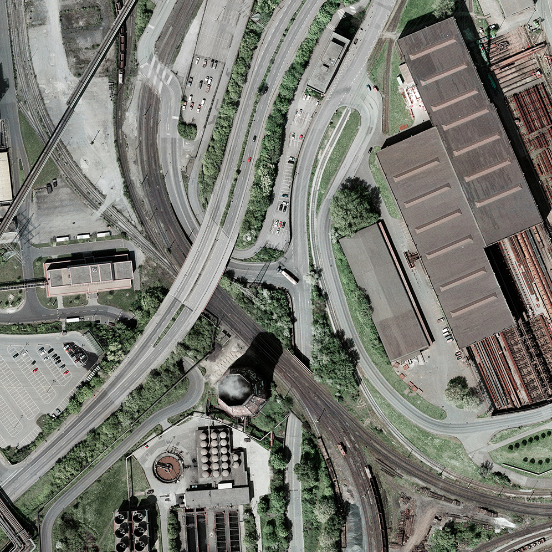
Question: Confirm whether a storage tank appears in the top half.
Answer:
No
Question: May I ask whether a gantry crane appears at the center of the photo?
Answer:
No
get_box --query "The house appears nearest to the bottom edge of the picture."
[184,487,250,509]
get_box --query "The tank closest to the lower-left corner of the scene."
[153,452,183,483]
